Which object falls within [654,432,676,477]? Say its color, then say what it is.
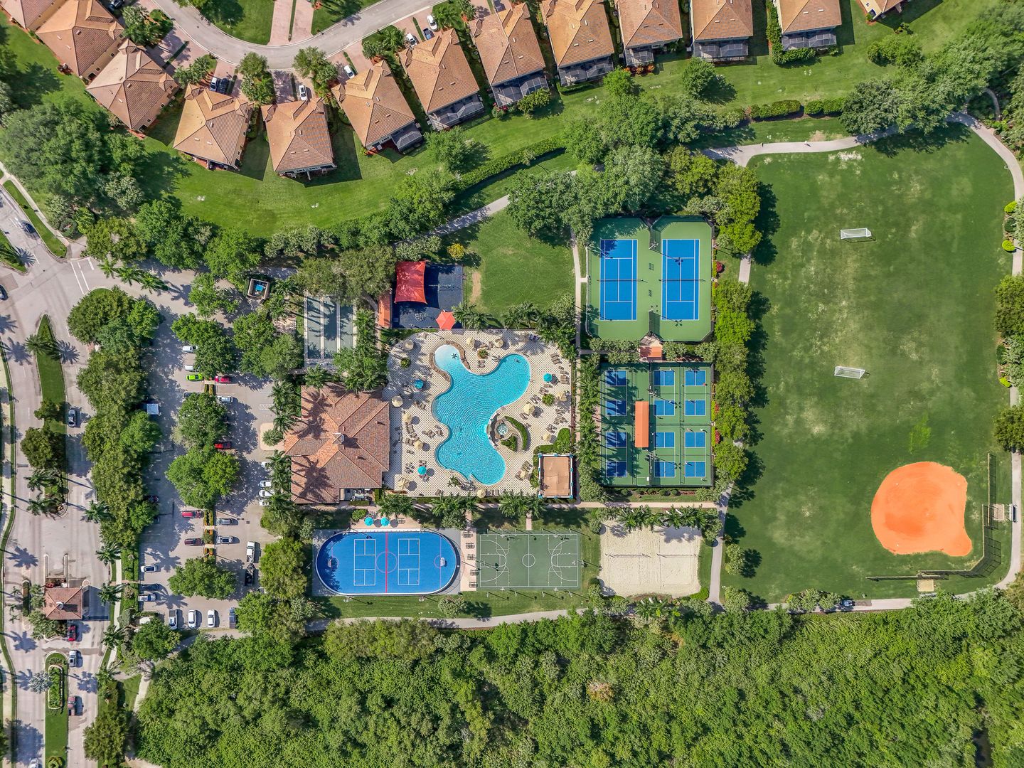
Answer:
blue sports court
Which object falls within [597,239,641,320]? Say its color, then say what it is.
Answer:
blue tennis court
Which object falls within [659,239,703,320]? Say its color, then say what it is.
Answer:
blue tennis court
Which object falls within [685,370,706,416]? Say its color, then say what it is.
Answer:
blue sports court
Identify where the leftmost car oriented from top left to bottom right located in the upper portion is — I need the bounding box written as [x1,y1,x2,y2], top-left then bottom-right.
[18,219,32,235]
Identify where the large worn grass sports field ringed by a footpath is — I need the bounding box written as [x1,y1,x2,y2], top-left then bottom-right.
[724,122,1015,602]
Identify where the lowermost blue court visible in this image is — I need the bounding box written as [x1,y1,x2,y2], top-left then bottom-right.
[312,529,460,596]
